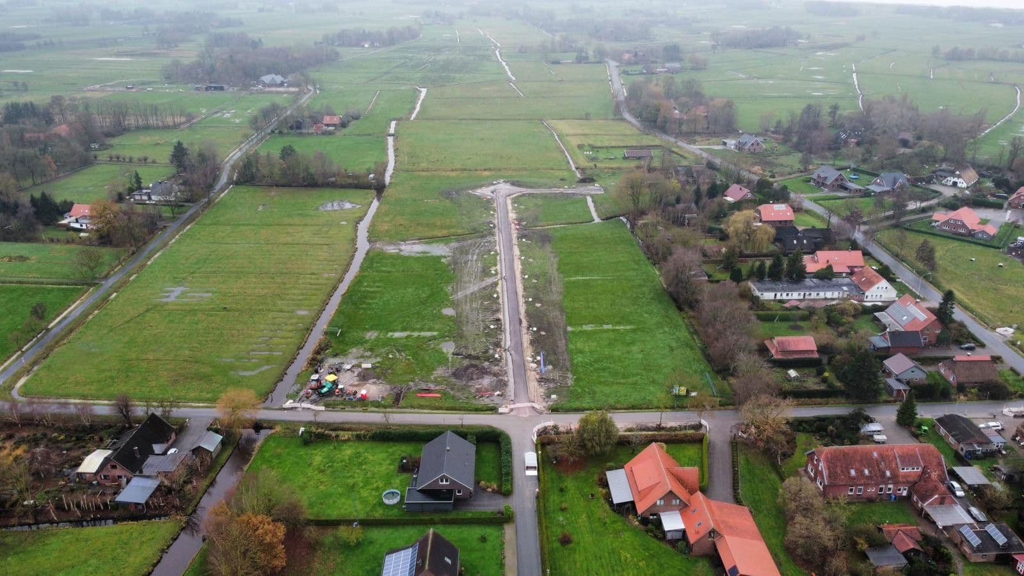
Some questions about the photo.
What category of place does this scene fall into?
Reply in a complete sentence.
This image shows a residential area.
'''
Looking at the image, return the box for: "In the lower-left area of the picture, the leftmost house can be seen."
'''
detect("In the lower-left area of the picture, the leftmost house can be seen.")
[77,413,187,514]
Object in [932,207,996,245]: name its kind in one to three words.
house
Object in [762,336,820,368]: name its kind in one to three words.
barn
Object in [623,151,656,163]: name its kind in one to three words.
barn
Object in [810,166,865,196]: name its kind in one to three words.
house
